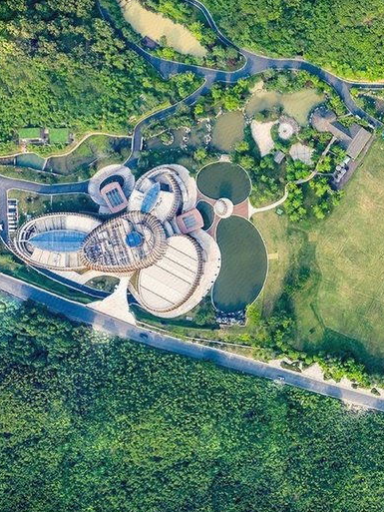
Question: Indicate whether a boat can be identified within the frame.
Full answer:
No, there appears to be no boat in this shot.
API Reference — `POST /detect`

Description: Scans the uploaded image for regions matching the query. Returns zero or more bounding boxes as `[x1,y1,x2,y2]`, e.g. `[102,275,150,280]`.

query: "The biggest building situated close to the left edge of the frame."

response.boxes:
[14,212,98,270]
